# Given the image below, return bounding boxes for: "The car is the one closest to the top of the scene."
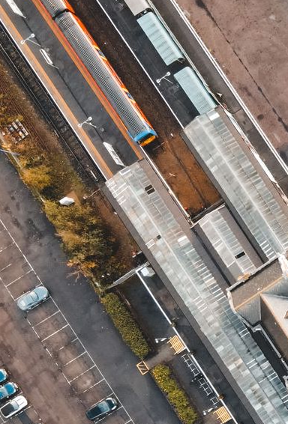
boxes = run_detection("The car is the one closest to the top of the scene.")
[16,286,52,309]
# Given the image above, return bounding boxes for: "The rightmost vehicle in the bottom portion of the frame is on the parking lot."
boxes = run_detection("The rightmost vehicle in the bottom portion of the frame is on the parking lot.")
[83,395,121,422]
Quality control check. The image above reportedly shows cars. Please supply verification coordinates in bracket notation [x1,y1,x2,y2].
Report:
[16,286,52,309]
[83,395,121,422]
[0,395,30,418]
[0,381,20,402]
[0,368,9,384]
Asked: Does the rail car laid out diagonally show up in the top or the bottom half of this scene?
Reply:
top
